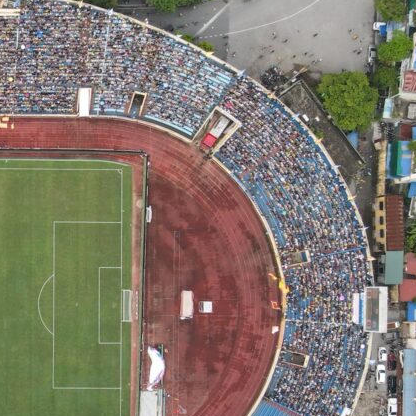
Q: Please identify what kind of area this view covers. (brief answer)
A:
sports ground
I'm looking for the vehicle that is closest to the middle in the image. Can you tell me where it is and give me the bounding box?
[200,114,228,149]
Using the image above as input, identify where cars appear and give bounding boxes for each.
[384,352,395,370]
[385,399,395,416]
[365,45,376,65]
[385,374,395,393]
[375,345,386,363]
[374,364,384,383]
